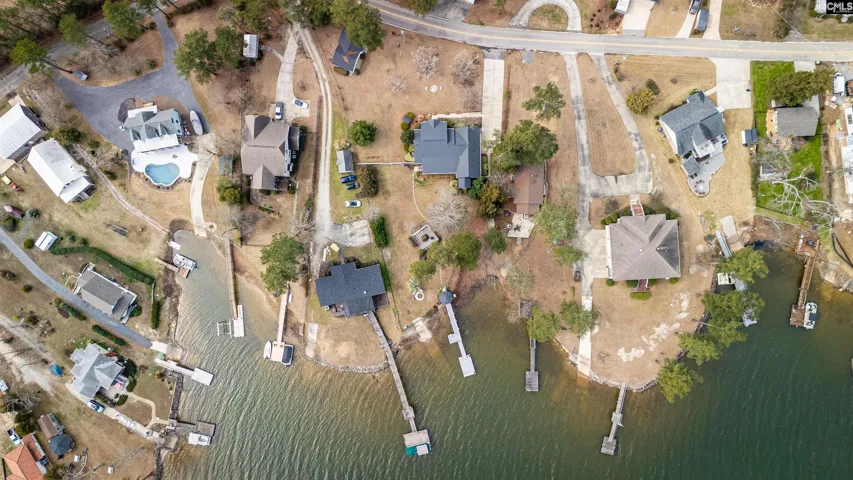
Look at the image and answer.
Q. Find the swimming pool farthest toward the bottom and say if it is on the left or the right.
left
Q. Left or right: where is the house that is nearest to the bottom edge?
left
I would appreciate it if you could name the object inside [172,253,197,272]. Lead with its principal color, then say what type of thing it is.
white boat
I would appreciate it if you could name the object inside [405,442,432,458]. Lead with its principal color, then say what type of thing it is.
white boat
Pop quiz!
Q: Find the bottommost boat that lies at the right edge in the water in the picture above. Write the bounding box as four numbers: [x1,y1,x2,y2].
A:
[803,303,818,330]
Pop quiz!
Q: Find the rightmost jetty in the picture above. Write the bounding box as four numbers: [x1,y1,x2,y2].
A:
[789,238,819,326]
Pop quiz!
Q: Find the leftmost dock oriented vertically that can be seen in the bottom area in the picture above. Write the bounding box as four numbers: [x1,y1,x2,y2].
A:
[225,238,245,339]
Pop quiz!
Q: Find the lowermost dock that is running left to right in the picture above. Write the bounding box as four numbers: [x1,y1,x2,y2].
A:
[168,420,217,438]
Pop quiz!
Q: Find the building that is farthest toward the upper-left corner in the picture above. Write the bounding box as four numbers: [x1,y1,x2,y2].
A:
[0,97,48,177]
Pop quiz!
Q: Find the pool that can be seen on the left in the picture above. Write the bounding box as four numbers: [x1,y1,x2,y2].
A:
[143,162,181,186]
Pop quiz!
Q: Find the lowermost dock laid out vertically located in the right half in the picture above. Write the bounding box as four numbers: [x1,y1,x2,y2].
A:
[600,382,627,456]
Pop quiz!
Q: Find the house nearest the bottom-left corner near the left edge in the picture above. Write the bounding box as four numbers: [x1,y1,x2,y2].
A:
[2,432,53,480]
